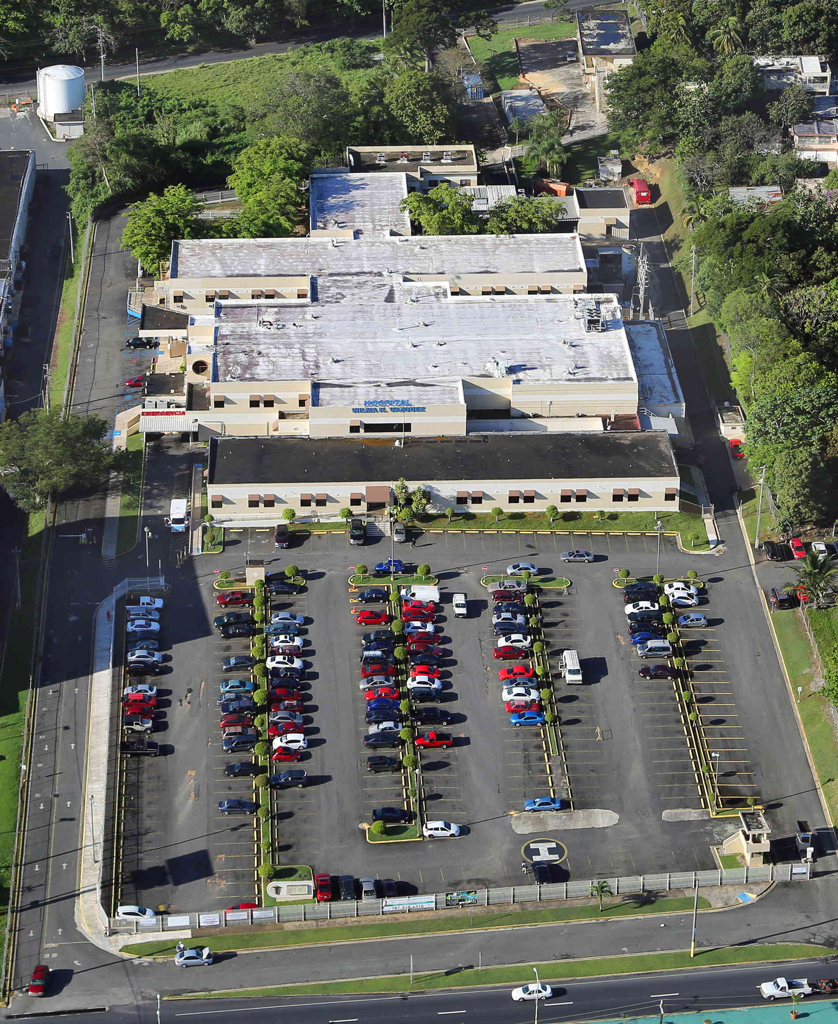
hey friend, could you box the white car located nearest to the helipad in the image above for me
[423,820,459,838]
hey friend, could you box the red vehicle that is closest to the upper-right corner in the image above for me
[632,175,652,202]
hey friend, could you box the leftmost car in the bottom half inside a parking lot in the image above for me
[28,958,48,993]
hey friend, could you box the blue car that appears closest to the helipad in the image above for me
[524,796,560,812]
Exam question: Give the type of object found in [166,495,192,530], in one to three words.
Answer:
vehicle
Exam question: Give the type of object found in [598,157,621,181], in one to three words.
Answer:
shed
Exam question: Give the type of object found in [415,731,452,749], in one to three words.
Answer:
vehicle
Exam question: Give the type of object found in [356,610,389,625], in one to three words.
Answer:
car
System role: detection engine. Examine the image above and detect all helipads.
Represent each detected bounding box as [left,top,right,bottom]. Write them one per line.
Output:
[525,839,564,861]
